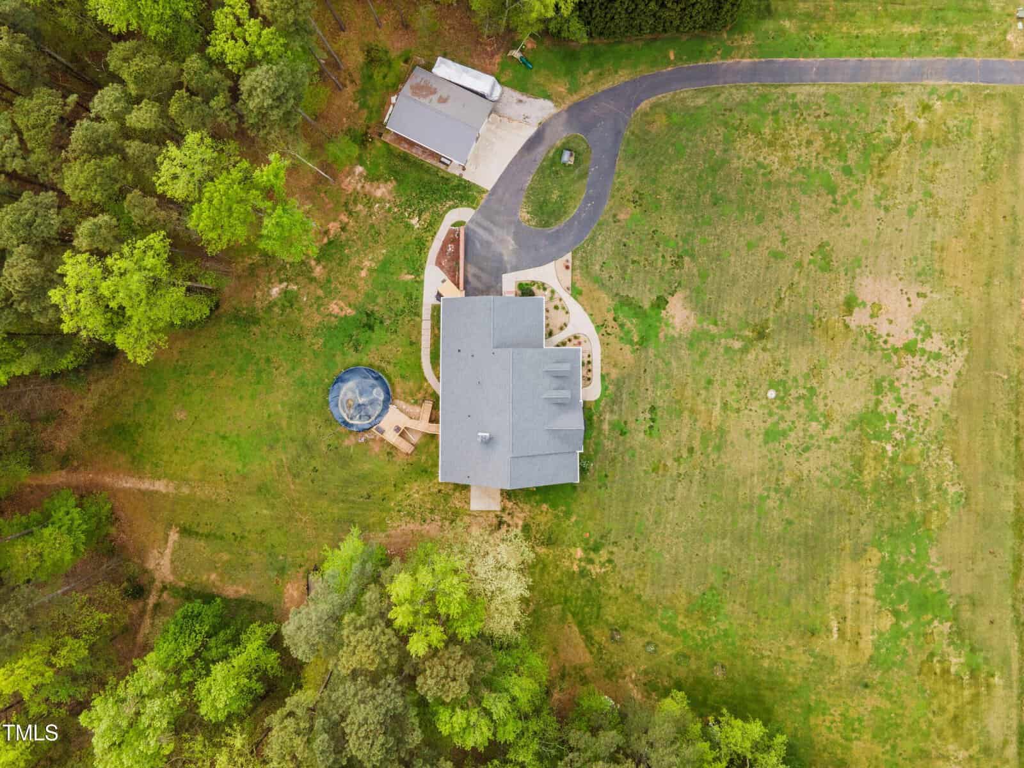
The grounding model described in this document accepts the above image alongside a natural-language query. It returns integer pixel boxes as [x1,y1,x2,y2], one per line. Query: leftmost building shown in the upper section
[388,64,494,166]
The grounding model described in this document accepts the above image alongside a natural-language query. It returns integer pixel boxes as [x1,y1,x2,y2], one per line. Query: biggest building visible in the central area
[438,296,586,489]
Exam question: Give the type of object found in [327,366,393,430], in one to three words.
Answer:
swimming pool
